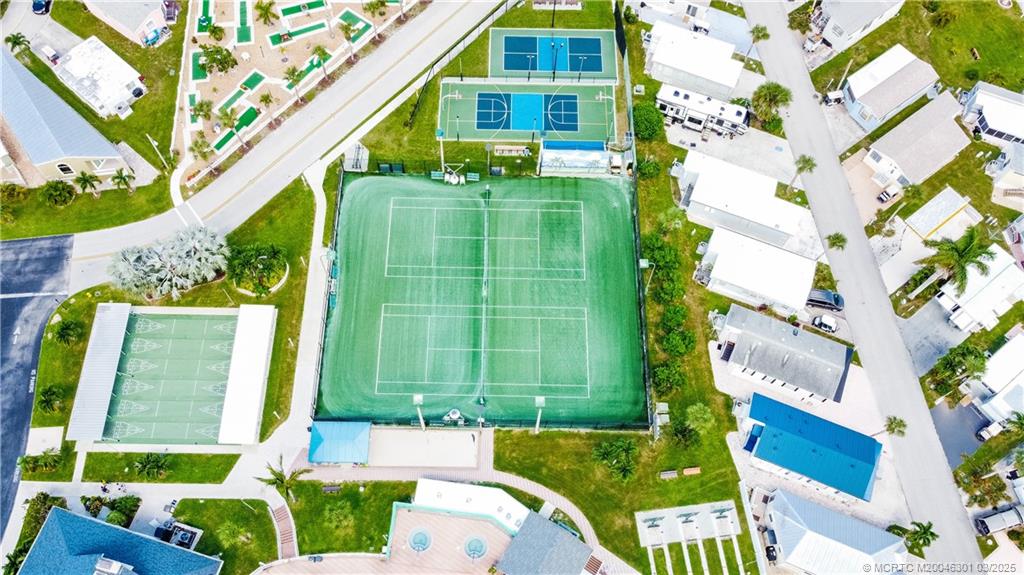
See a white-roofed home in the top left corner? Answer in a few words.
Yes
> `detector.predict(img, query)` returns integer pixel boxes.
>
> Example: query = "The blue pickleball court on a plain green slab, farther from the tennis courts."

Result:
[488,27,618,82]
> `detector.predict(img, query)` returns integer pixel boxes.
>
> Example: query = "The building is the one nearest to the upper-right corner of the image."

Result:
[966,81,1024,154]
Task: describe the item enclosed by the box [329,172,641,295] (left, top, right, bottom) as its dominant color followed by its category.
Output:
green tennis court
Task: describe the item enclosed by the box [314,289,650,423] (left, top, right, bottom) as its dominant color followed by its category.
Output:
green tennis court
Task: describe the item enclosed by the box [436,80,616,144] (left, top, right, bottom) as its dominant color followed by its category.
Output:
green basketball court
